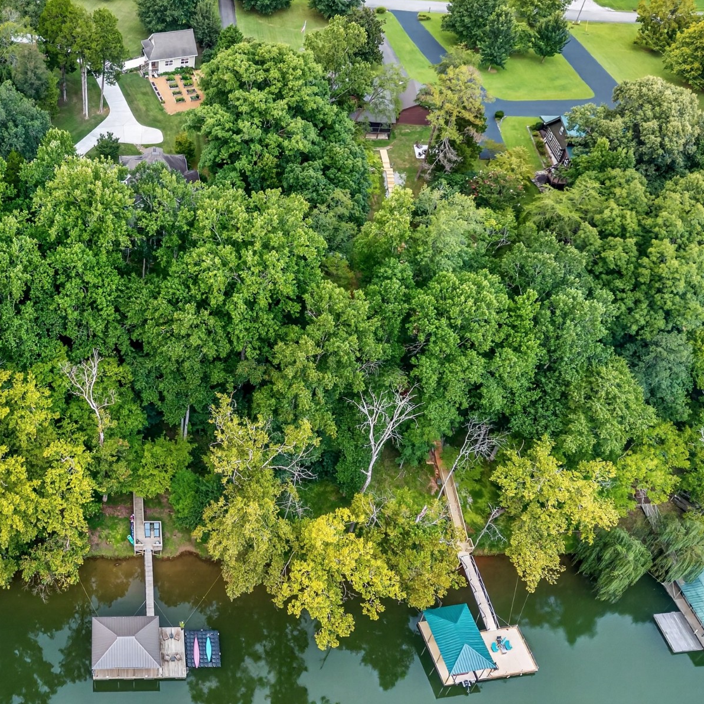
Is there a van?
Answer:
No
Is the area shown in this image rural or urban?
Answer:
rural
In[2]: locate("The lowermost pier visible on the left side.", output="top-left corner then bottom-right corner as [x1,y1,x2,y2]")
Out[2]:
[92,617,190,685]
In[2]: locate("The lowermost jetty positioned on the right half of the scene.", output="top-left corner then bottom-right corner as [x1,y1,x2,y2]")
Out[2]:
[421,604,541,685]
